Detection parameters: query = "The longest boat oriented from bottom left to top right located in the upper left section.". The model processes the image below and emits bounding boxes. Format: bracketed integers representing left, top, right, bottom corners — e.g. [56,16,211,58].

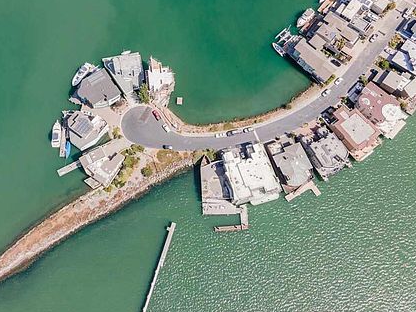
[73,62,91,85]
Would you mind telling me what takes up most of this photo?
water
